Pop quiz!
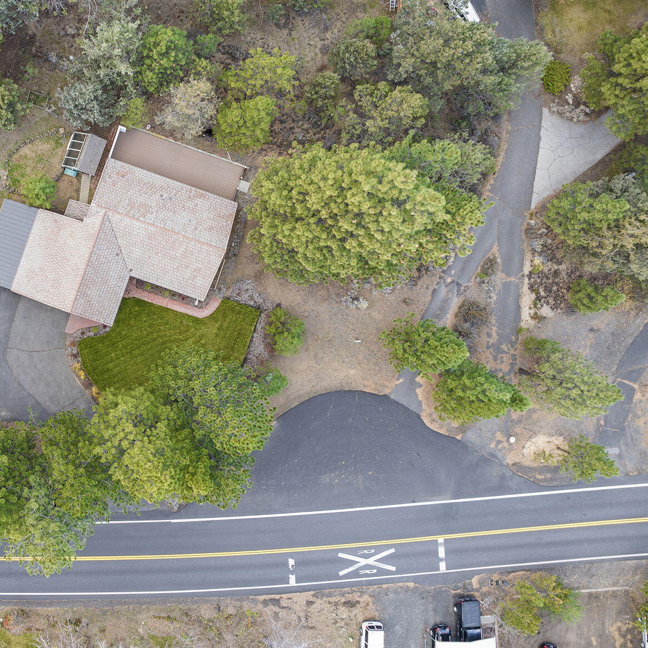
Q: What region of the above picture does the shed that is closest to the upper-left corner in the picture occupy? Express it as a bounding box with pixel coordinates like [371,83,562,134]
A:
[61,131,106,180]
